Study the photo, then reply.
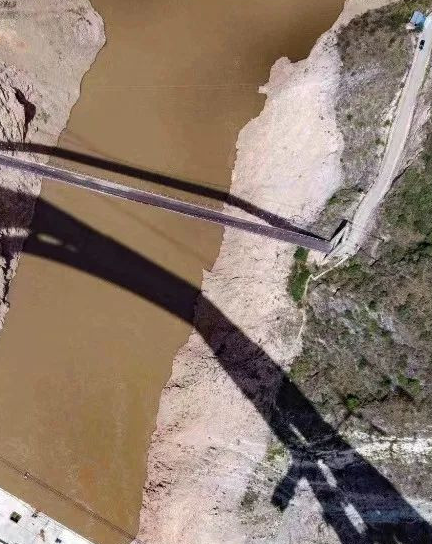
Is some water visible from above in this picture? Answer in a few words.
Yes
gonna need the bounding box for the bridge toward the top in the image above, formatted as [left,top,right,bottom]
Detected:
[0,148,345,261]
